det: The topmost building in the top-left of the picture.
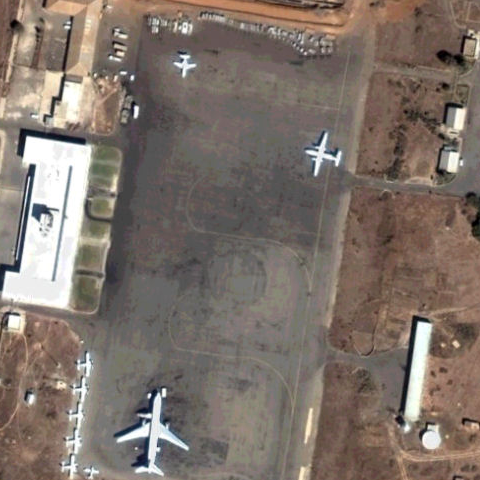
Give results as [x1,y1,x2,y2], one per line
[45,0,102,75]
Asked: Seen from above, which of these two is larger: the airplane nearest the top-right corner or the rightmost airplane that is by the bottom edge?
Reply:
the rightmost airplane that is by the bottom edge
